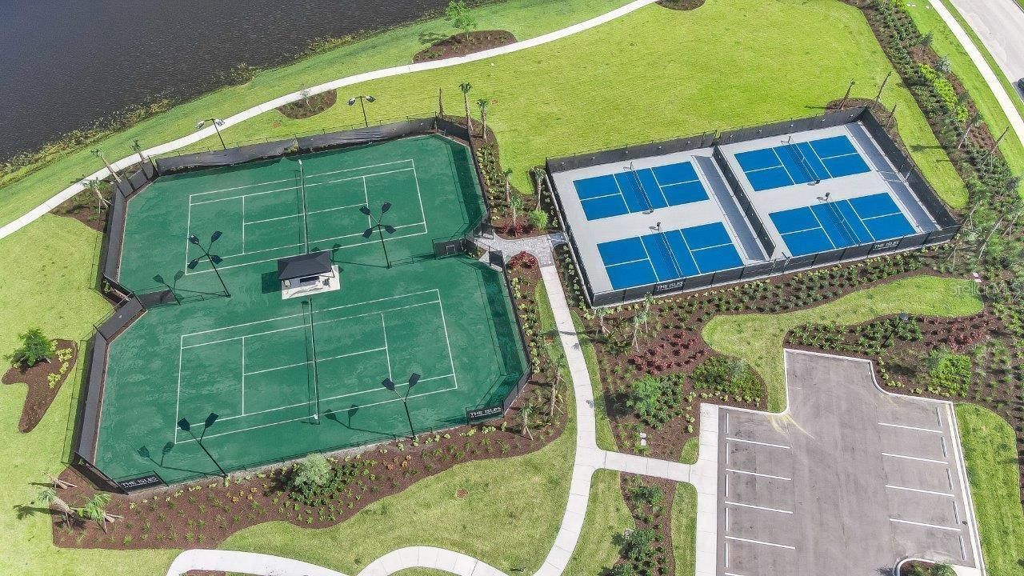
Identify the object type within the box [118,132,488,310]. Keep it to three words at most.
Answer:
tennis court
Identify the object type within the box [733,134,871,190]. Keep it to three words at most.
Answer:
sports court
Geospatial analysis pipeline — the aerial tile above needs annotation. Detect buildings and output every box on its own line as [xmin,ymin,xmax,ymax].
[277,250,340,299]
